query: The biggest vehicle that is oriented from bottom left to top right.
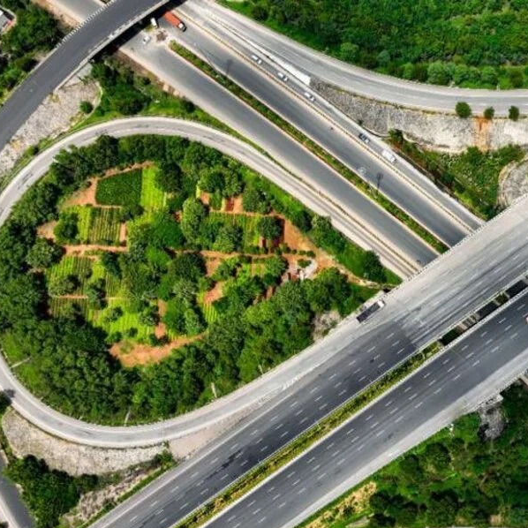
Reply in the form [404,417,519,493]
[357,300,382,320]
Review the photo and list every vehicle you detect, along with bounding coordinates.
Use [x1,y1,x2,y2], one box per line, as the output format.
[358,133,370,143]
[149,14,158,27]
[158,6,185,29]
[357,300,382,320]
[276,71,288,81]
[381,147,395,160]
[251,54,262,64]
[303,91,315,100]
